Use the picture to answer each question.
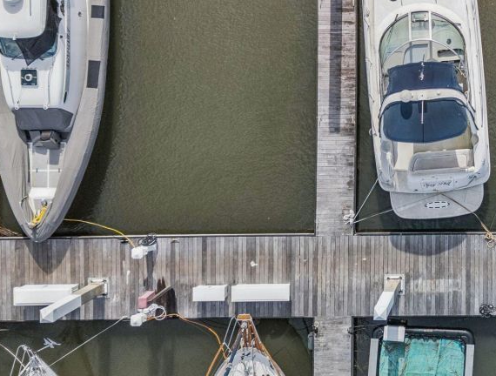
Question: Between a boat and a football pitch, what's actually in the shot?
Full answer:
The image shows a boat.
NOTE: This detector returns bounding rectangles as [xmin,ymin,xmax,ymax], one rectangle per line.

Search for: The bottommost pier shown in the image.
[312,318,357,376]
